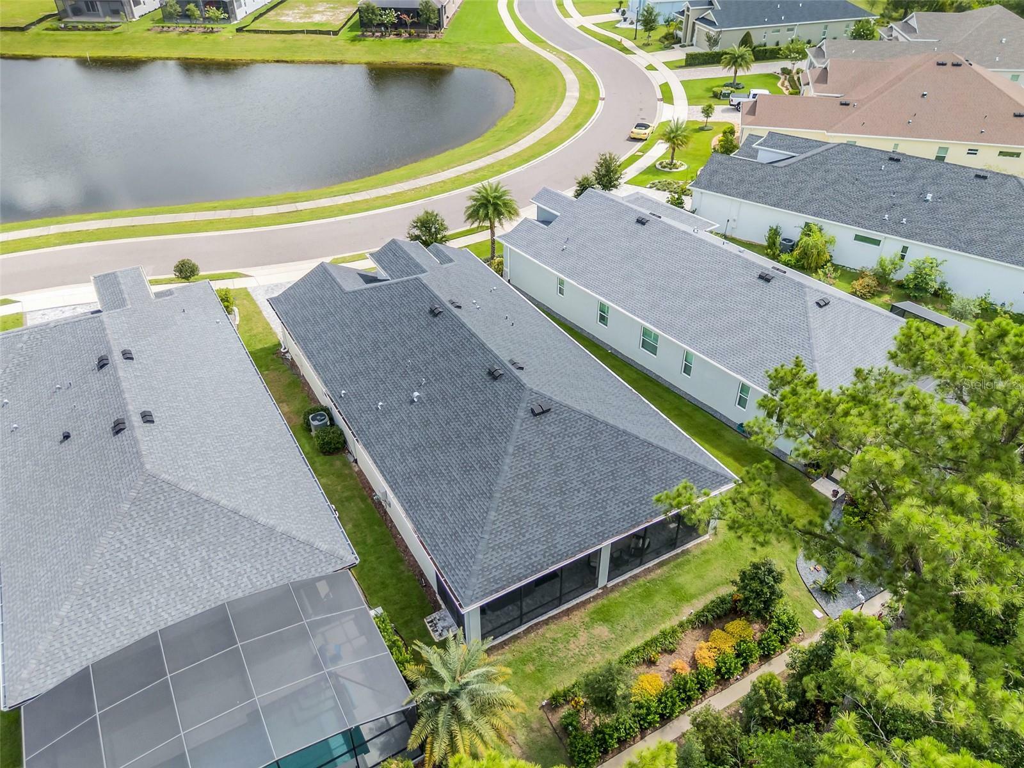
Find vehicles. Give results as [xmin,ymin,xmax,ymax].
[724,90,764,113]
[628,121,655,138]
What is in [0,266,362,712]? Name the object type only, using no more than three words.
house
